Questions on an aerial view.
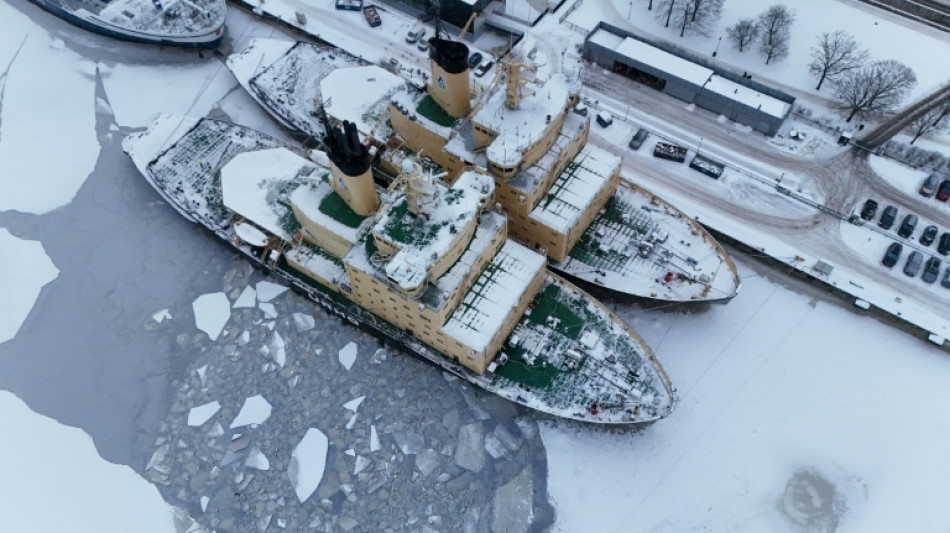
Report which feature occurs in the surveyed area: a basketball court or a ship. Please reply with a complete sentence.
I can see a ship in this picture.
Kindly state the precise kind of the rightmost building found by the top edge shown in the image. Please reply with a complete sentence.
I'd say the rightmost building found by the top edge is a warehouse.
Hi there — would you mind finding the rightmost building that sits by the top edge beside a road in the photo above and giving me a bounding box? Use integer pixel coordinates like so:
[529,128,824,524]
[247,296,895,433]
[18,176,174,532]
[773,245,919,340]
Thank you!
[582,20,794,137]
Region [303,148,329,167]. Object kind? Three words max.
boat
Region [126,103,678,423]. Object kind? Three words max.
ship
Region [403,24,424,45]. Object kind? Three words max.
vehicle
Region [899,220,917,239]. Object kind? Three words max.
car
